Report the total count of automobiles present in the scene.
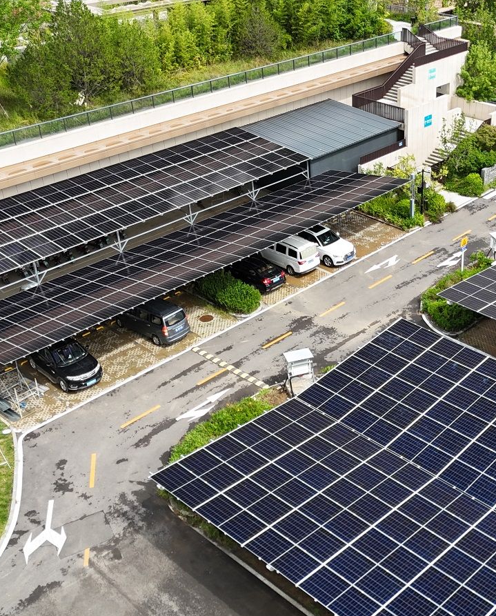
5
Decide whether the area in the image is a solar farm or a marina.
solar farm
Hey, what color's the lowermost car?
black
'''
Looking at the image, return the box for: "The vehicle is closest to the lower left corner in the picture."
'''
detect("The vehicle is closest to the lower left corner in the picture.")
[26,335,106,391]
